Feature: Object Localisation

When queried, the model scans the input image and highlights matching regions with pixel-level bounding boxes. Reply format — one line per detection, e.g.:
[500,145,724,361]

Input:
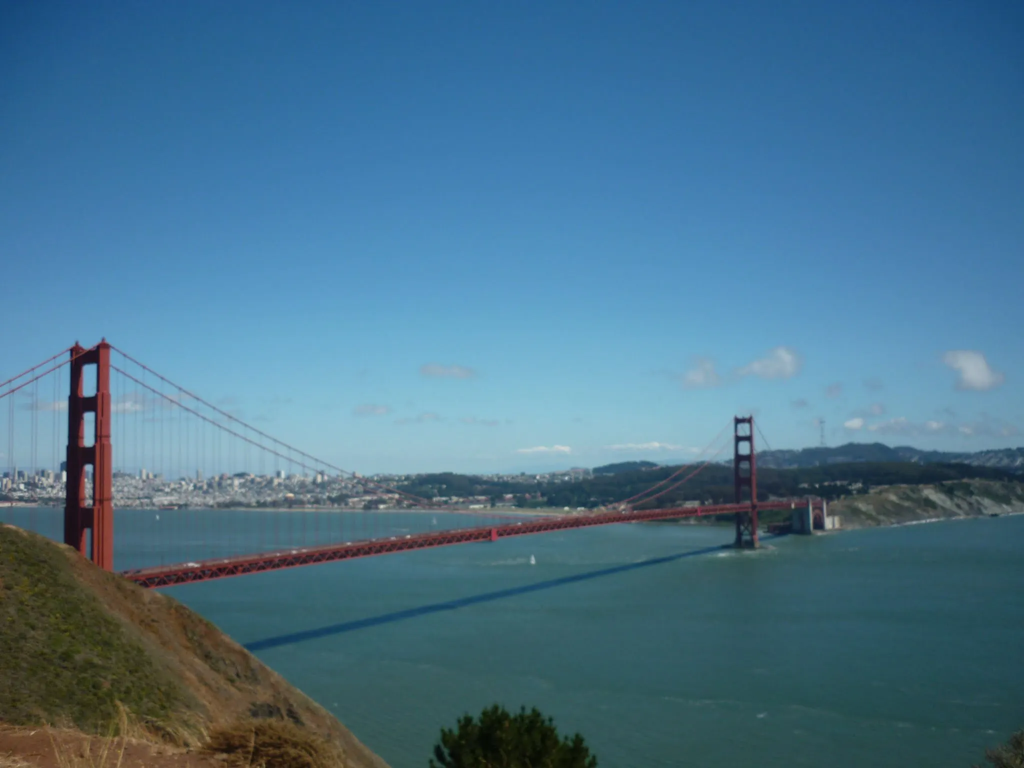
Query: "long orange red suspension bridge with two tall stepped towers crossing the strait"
[0,333,833,590]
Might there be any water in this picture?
Yes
